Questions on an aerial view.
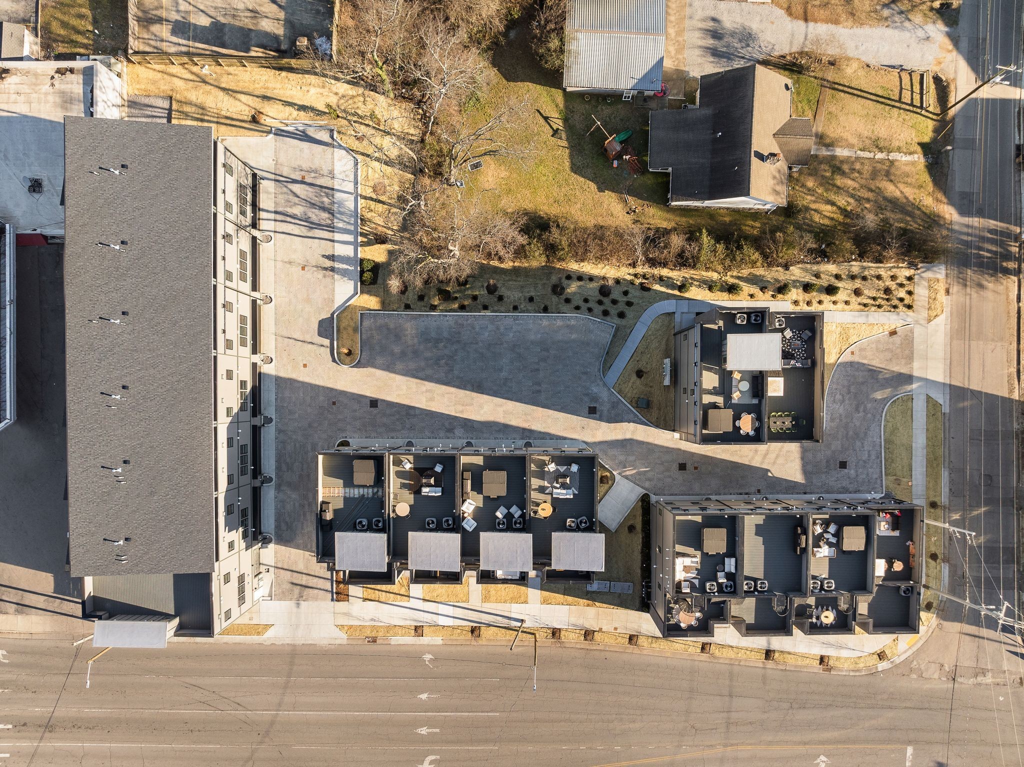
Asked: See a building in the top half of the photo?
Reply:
Yes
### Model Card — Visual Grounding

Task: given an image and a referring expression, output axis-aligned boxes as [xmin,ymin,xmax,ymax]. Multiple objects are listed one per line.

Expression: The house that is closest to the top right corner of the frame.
[647,64,814,209]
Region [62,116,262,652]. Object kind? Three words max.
building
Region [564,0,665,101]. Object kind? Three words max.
building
